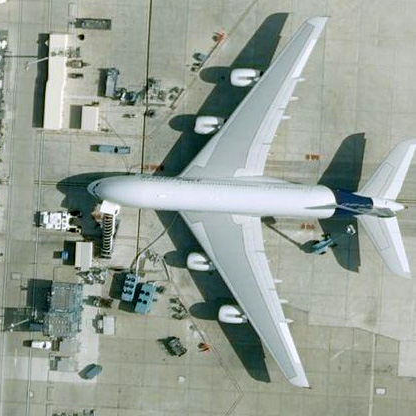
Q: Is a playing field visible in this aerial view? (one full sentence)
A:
No, no playing field is visible in the view.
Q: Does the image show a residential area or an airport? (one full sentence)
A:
It's an airport.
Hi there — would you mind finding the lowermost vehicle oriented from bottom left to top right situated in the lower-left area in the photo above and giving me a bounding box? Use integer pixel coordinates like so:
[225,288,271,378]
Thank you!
[83,362,104,380]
